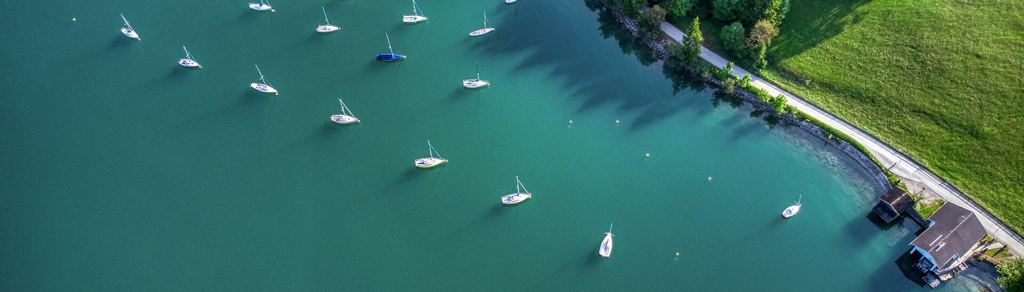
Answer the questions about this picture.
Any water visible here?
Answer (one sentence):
Yes, there's water in this view.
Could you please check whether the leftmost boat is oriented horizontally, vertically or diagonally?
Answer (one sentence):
In this picture, the leftmost boat lies diagonally.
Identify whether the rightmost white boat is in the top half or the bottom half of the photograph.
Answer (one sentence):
The rightmost white boat is in the bottom half of the image.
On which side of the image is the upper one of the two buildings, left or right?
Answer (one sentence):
The upper one of the two buildings appears in the right half of the scene.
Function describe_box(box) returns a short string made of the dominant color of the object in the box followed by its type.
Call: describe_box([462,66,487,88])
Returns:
white boat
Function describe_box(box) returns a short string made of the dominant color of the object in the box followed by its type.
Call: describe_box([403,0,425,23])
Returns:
white boat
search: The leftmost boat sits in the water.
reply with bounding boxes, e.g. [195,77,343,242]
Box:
[120,15,140,41]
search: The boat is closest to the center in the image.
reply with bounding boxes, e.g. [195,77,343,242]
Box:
[502,177,530,205]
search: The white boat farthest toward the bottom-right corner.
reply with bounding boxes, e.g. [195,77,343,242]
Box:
[781,195,801,219]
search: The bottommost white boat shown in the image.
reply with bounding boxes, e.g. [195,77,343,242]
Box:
[599,224,613,258]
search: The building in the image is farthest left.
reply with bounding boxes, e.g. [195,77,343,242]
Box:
[871,186,914,223]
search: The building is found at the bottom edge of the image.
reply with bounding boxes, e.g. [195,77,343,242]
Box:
[904,202,989,285]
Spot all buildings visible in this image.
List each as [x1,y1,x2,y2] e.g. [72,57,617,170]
[871,186,914,223]
[904,202,989,285]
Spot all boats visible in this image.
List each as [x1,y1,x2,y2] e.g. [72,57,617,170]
[403,0,425,23]
[375,33,403,61]
[120,15,140,41]
[781,195,801,219]
[249,64,278,94]
[248,0,271,11]
[502,177,530,205]
[599,224,613,258]
[916,260,931,274]
[469,11,494,38]
[177,47,200,69]
[331,98,358,125]
[315,7,338,34]
[415,140,444,168]
[462,66,487,88]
